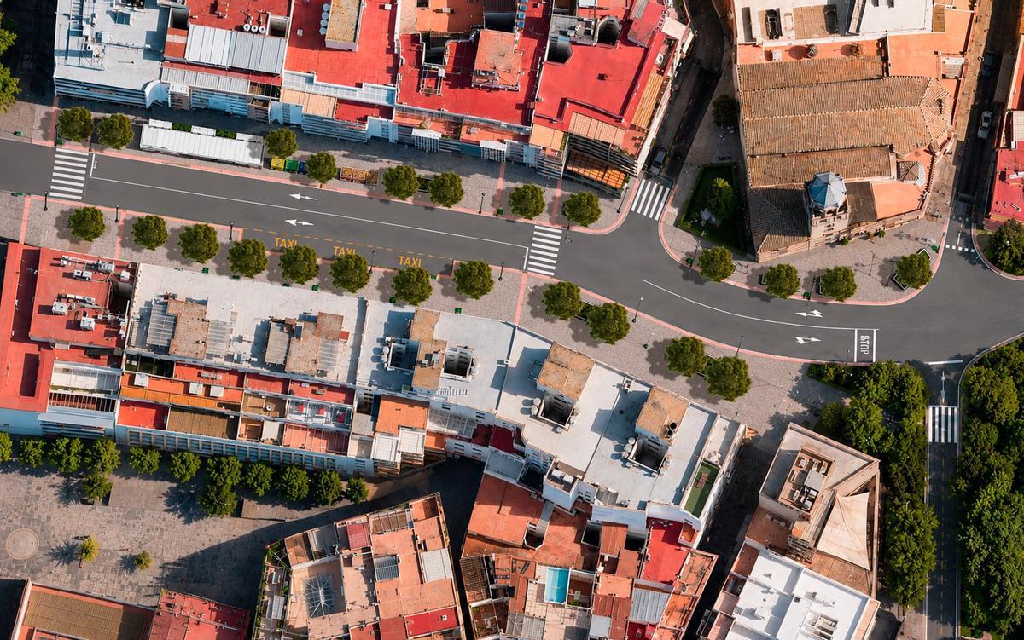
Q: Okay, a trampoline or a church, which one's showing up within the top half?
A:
church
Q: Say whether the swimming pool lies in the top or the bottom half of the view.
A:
bottom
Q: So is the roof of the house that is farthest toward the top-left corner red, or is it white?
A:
white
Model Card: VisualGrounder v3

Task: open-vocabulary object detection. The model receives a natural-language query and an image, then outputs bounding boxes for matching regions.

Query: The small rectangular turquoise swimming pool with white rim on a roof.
[544,566,570,605]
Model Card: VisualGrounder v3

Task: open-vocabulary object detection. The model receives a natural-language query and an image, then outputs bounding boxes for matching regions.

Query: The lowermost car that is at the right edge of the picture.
[977,110,993,140]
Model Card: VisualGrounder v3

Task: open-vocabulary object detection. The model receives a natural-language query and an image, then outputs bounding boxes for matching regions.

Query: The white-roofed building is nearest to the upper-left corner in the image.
[54,0,172,119]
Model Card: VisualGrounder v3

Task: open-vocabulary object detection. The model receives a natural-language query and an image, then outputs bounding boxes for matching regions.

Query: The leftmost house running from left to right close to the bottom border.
[12,578,155,640]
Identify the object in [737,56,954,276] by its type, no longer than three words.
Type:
church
